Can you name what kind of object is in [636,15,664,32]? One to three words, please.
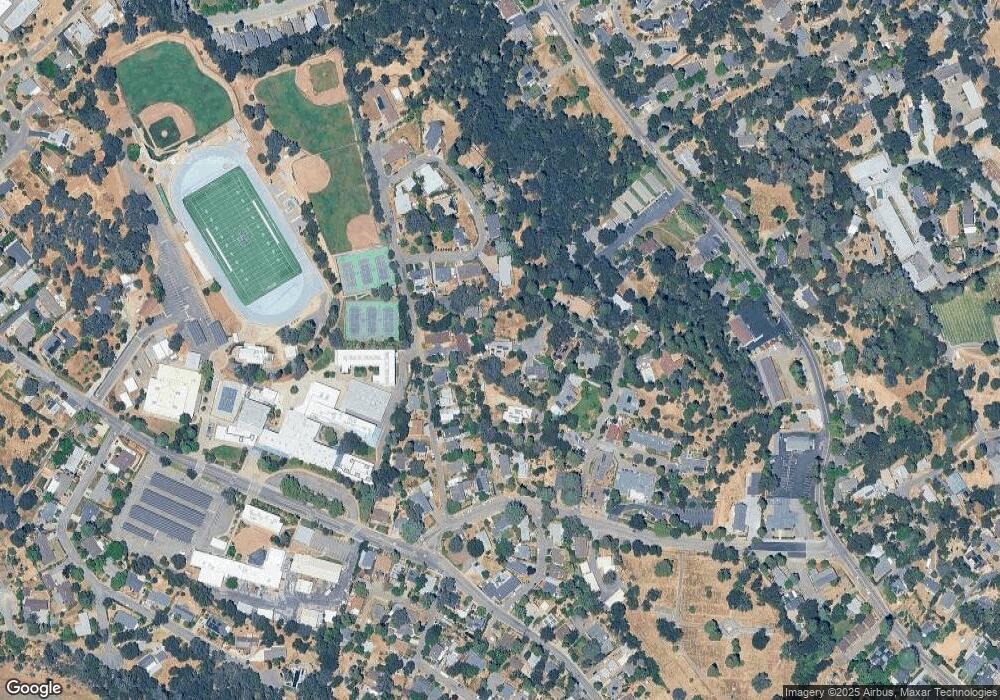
house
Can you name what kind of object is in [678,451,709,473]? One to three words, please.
house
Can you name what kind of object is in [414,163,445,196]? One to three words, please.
building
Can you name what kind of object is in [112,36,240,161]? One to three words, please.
baseball field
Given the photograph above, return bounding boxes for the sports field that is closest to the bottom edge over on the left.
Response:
[184,168,300,304]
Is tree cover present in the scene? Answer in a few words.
Yes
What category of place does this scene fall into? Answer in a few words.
residential area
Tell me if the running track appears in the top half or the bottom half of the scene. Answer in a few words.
top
